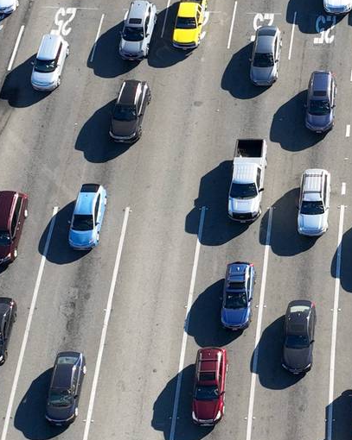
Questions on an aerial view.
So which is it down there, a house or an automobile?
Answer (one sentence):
The image shows an automobile.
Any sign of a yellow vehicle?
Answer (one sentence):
Yes, a yellow vehicle appears in the view.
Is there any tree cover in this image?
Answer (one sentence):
No, there's no tree cover in this view.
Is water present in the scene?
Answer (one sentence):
No, the scene doesn't show any water.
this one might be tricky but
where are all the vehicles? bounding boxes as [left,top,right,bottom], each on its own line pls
[281,302,317,375]
[0,190,32,267]
[303,70,336,133]
[109,80,151,143]
[296,168,332,236]
[0,0,21,14]
[29,32,70,93]
[119,0,158,61]
[248,27,282,86]
[0,299,17,368]
[189,348,230,426]
[220,259,257,331]
[67,184,108,249]
[226,138,267,225]
[323,0,352,15]
[44,352,88,426]
[170,0,209,51]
